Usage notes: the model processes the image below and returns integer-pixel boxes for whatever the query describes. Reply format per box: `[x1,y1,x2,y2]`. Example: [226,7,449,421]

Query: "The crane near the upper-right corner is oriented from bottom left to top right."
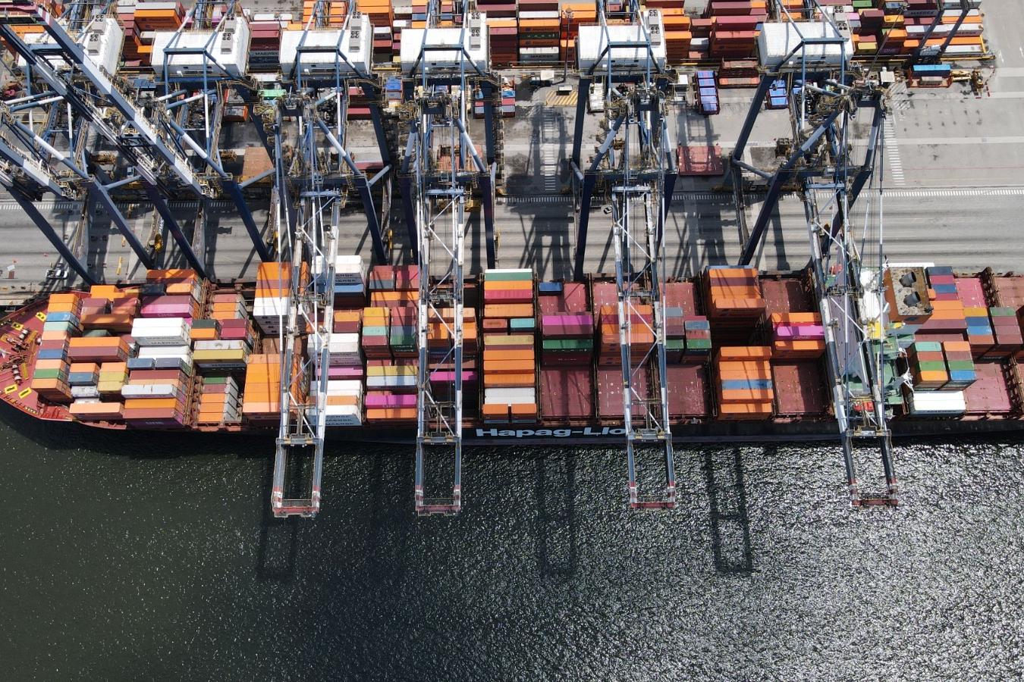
[909,0,985,66]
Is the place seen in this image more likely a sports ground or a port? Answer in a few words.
port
